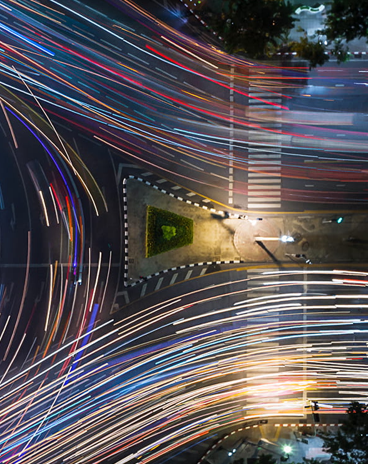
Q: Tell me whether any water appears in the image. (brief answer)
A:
No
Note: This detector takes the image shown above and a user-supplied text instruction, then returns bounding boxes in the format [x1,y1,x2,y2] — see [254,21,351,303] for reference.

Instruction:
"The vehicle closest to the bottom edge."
[73,260,87,287]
